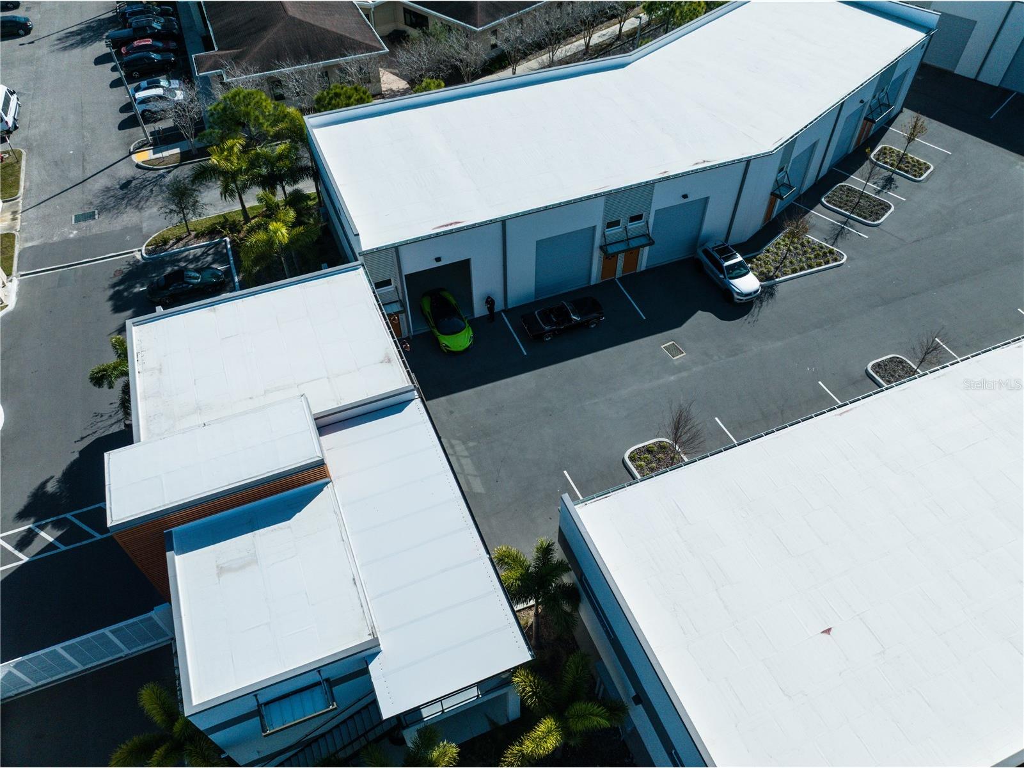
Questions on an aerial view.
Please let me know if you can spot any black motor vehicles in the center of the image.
Yes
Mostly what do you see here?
buildings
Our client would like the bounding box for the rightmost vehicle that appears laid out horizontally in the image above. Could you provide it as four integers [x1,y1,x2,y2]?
[521,291,611,336]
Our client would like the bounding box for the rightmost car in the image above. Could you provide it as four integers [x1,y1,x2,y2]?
[695,236,762,299]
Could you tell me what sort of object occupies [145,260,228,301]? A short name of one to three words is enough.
car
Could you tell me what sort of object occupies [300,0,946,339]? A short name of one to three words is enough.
building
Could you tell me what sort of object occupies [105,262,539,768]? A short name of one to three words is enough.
building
